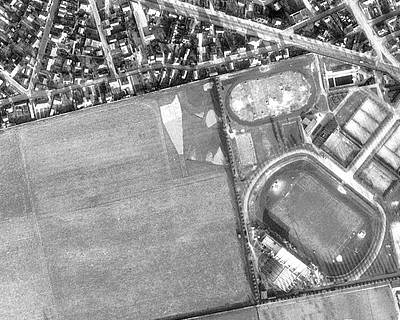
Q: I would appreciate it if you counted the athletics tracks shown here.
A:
two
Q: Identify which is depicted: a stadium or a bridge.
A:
stadium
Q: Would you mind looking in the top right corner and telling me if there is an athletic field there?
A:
No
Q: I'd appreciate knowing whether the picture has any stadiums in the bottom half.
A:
Yes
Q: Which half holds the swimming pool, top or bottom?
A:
top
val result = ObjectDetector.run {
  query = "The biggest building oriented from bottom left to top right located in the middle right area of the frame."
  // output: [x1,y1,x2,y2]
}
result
[312,121,339,148]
